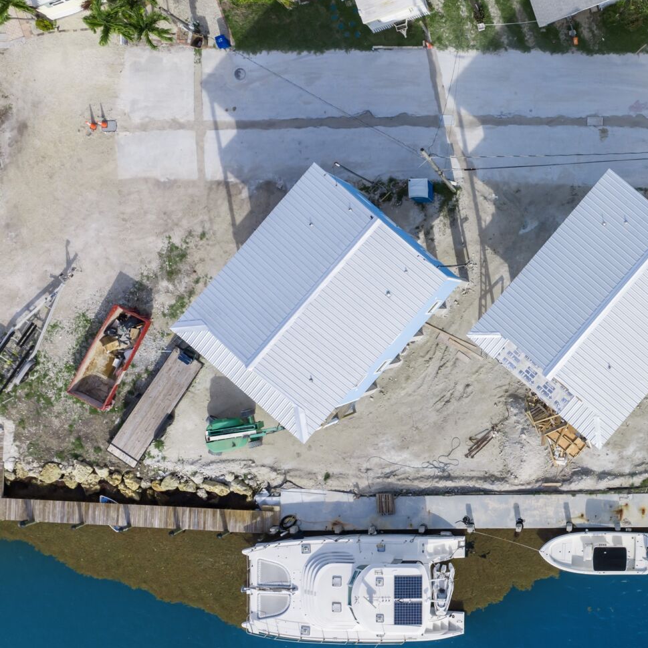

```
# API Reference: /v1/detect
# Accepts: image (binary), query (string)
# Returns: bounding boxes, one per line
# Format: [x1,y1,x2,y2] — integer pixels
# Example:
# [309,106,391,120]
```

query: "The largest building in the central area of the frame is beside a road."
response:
[172,162,489,442]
